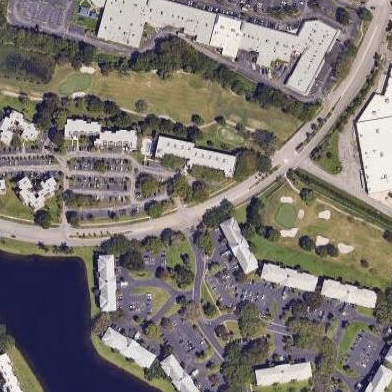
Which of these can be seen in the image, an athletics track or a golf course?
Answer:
golf course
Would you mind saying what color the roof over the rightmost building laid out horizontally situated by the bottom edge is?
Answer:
white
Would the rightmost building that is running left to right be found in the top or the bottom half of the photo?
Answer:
bottom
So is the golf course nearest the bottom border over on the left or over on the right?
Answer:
right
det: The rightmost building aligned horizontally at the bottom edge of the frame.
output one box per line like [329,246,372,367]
[255,362,314,387]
